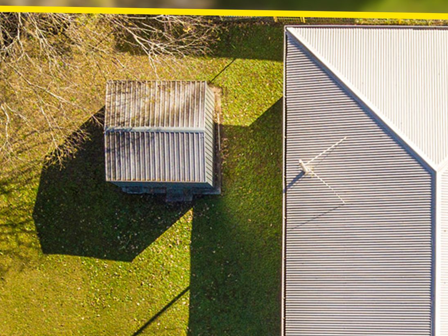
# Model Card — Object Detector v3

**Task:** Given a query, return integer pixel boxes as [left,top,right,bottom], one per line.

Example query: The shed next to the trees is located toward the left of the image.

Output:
[103,78,222,203]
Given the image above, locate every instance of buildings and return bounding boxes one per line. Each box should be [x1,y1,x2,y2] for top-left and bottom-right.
[282,25,448,336]
[103,78,222,203]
